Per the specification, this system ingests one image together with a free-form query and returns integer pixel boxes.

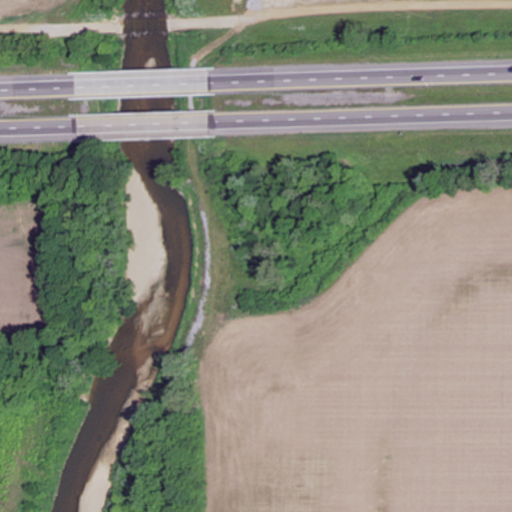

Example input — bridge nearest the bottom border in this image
[69,110,214,142]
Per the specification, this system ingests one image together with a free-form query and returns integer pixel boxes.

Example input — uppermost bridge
[67,67,214,99]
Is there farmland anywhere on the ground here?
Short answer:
Yes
